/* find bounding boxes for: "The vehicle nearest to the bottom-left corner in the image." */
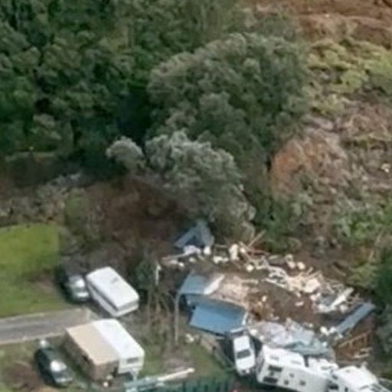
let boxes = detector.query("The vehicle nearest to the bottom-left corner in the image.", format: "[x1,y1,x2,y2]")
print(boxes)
[36,347,73,384]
